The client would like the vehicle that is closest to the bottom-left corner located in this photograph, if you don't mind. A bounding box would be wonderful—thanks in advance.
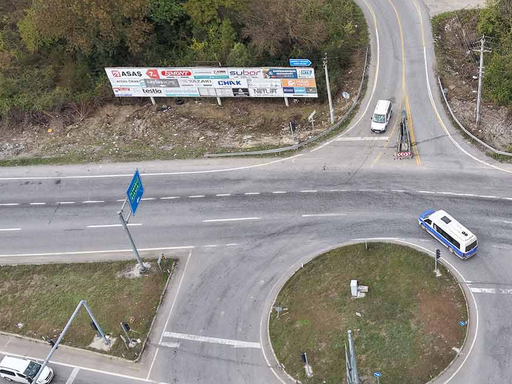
[0,353,55,384]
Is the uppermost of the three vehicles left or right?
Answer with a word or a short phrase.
right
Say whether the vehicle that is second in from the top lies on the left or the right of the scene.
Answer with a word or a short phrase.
right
